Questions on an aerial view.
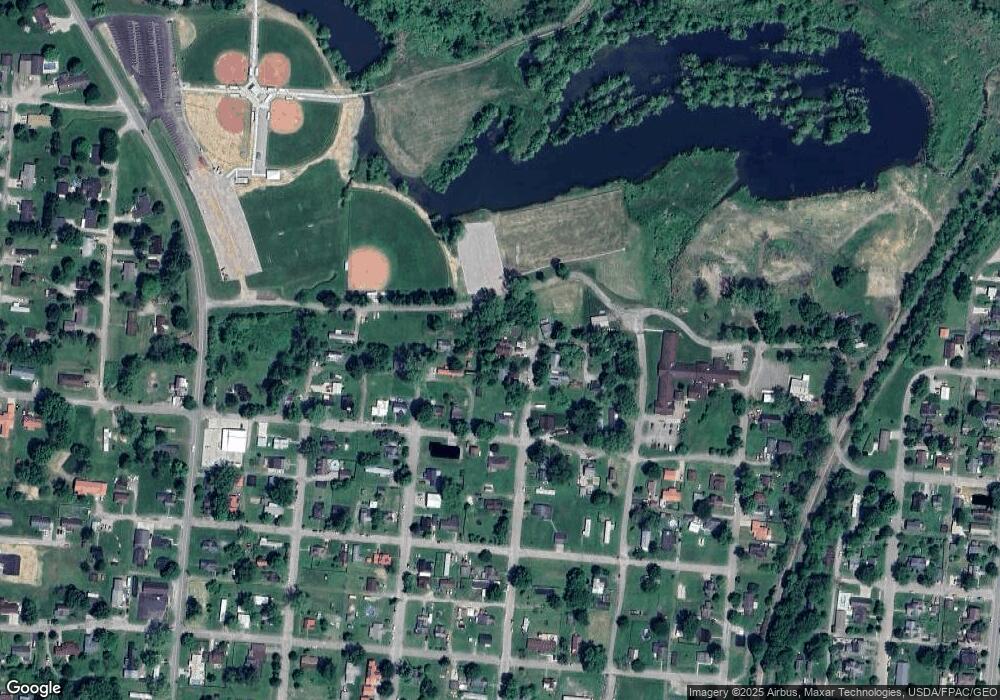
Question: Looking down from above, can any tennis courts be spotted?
No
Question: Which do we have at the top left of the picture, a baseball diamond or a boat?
baseball diamond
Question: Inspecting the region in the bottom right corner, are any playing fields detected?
No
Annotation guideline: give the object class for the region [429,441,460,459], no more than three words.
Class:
building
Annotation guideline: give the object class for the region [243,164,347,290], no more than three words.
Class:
sports field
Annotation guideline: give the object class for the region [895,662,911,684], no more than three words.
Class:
house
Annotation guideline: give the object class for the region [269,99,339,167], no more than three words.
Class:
baseball field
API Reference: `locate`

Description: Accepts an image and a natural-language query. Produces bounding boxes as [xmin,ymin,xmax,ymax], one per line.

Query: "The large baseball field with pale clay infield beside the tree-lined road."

[348,183,450,293]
